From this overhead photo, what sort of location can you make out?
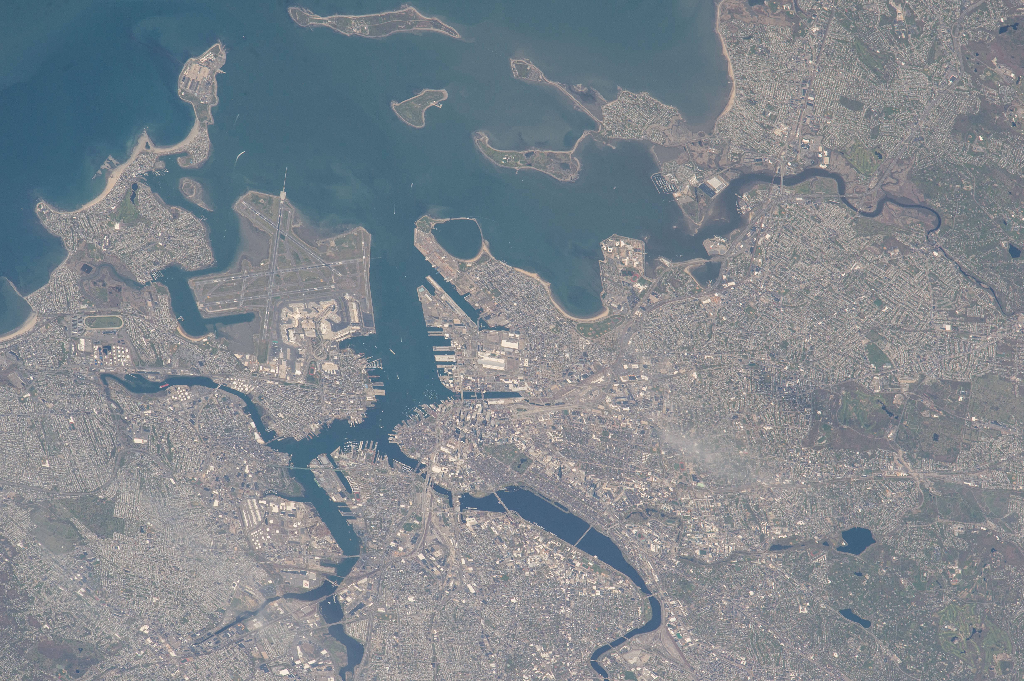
port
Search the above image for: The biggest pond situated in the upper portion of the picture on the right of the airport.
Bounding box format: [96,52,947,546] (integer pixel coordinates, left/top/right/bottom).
[431,219,483,259]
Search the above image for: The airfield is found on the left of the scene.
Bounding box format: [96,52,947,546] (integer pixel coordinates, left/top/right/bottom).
[194,192,375,372]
